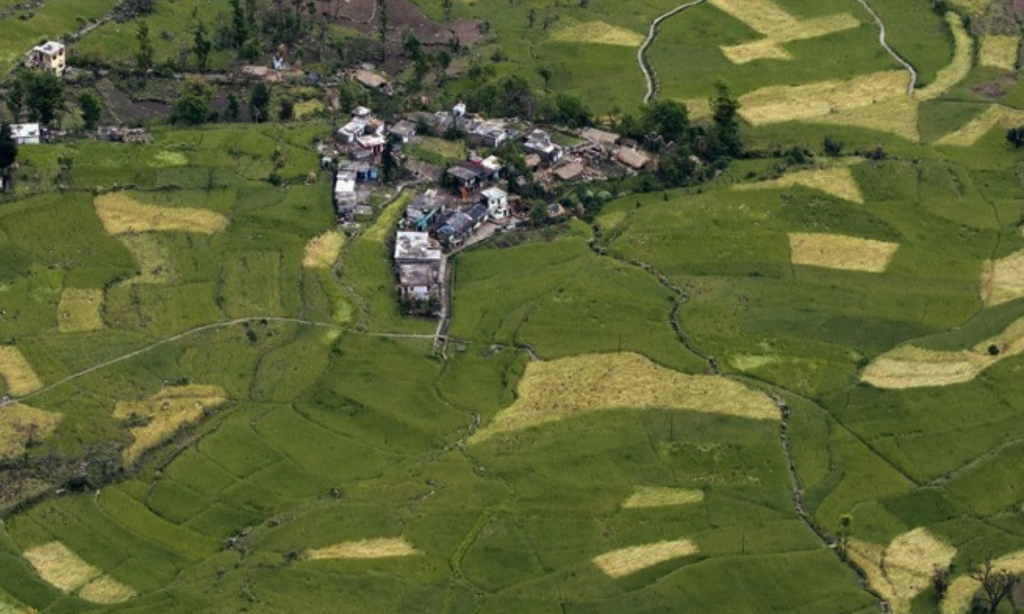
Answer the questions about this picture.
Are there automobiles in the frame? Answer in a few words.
No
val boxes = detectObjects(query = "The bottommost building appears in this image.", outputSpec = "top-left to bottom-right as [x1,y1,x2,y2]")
[398,263,431,305]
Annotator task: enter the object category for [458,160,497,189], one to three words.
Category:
house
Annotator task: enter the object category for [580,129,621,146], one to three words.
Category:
barn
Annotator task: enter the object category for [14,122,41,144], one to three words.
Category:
shed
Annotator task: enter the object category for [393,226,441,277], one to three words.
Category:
house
